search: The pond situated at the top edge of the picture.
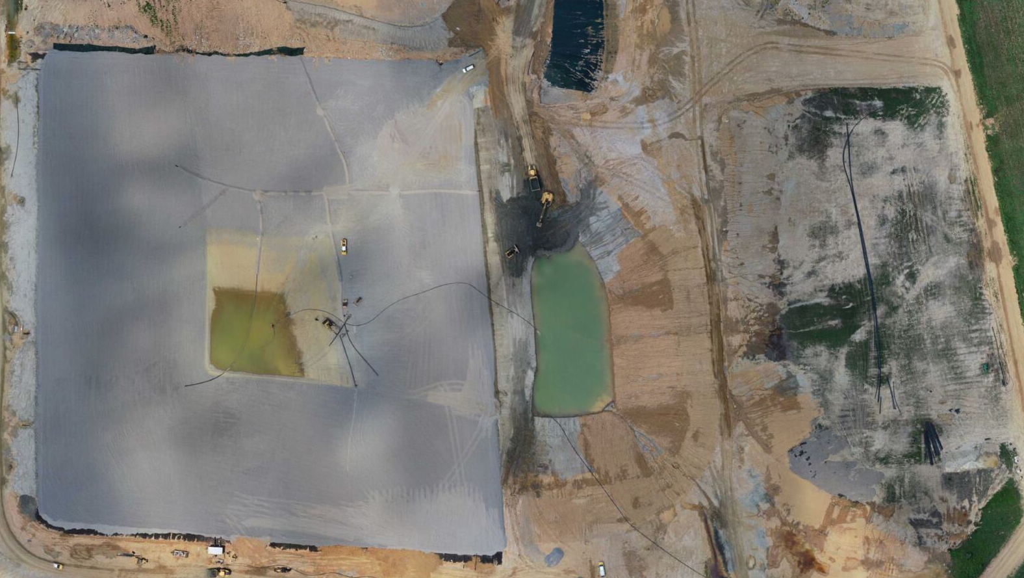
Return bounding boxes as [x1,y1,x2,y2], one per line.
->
[544,0,606,92]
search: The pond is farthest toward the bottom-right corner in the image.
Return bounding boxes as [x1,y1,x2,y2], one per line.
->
[531,243,615,418]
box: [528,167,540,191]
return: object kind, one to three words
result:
vehicle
